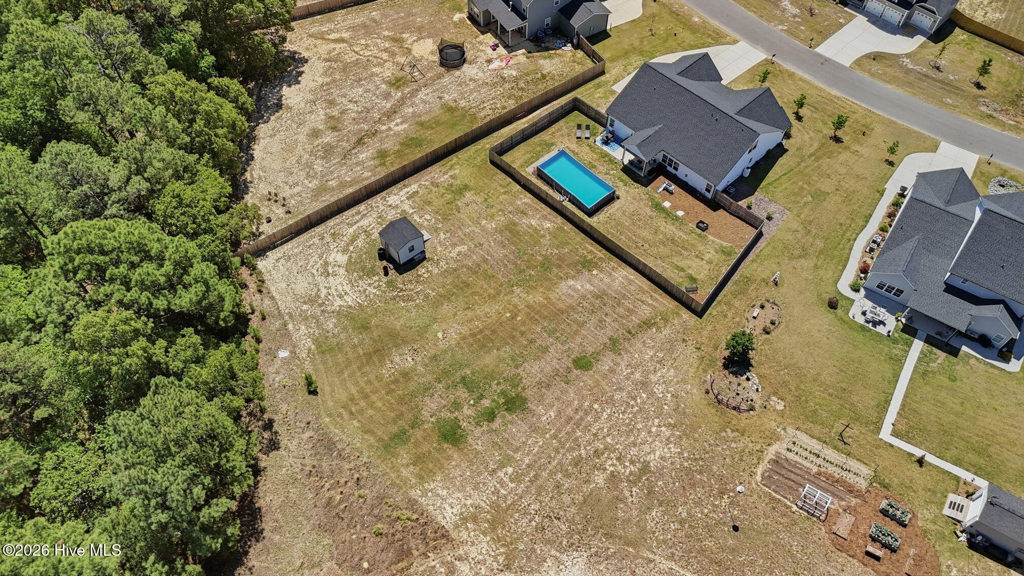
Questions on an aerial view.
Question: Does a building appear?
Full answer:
Yes, there is a building in the image.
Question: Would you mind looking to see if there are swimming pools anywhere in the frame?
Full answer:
Yes, there's a swimming pool down there.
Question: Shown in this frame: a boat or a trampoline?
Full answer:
The image shows a trampoline.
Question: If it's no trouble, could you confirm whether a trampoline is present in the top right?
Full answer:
No, I can find no trampoline in the top right.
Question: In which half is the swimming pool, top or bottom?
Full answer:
Seen from above, the swimming pool lies in the top half of the view.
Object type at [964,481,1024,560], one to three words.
shed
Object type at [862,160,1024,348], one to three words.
house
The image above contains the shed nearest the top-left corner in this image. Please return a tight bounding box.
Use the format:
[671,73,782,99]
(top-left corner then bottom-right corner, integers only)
[377,216,427,265]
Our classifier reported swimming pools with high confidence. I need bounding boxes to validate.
[538,150,616,215]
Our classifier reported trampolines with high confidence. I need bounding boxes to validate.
[436,41,466,72]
